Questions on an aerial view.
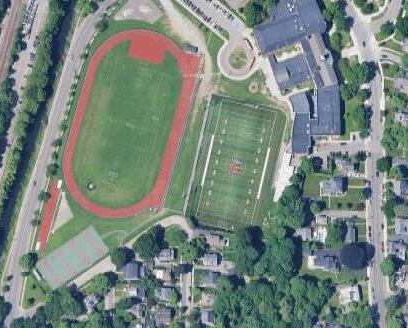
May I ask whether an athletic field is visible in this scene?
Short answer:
Yes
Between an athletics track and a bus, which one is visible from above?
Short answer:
athletics track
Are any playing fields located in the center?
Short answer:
Yes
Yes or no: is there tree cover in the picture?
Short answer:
Yes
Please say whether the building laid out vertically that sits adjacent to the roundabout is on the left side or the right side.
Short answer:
right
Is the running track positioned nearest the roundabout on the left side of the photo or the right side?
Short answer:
left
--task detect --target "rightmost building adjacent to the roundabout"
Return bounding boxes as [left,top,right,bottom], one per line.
[255,0,343,153]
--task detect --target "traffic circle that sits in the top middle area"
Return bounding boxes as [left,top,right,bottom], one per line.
[218,38,258,78]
